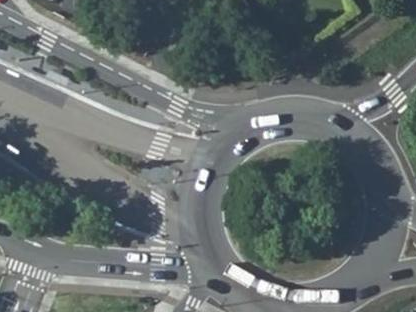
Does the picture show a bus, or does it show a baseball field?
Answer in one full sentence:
There is a bus in the scene.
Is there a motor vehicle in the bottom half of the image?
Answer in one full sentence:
Yes, there is a motor vehicle in the bottom half of the image.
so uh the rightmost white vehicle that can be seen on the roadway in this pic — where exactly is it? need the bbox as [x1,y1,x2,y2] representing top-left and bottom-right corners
[356,95,380,110]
